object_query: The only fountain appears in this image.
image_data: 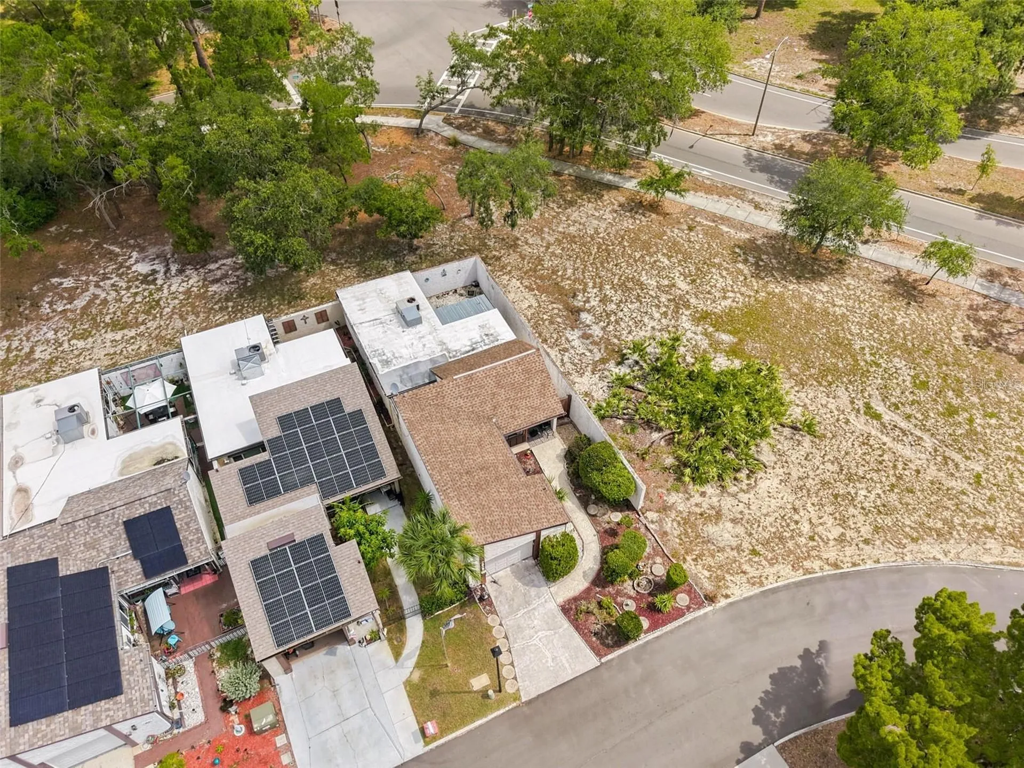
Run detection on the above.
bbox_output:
[633,573,656,596]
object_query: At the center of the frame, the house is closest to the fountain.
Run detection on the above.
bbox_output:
[338,257,570,583]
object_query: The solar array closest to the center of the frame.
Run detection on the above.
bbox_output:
[240,407,391,512]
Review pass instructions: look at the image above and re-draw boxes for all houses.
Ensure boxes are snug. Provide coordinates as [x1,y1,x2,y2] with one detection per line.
[180,313,402,675]
[0,368,230,768]
[338,257,570,583]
